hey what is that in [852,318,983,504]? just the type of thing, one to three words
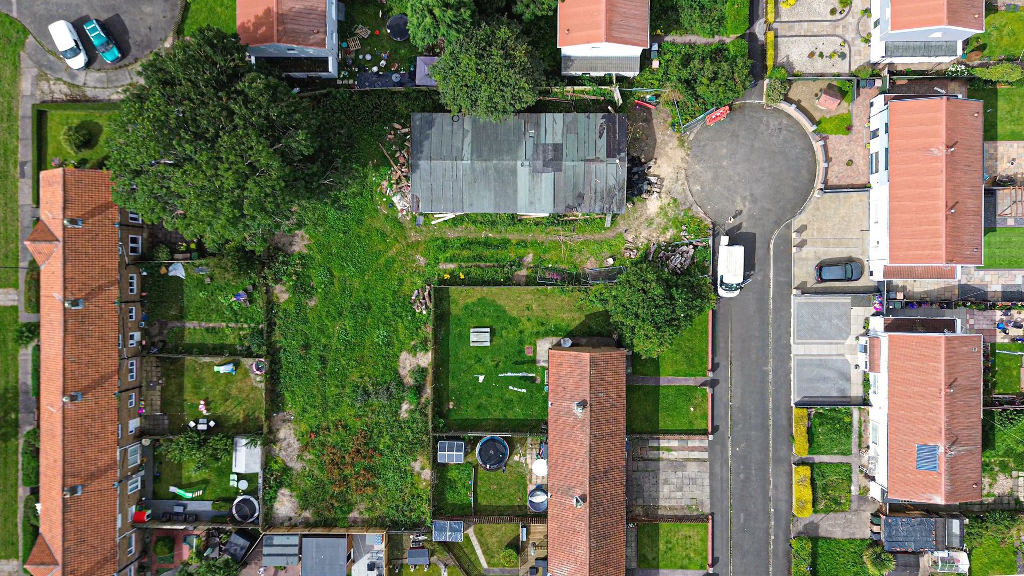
house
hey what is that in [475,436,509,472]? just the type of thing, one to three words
trampoline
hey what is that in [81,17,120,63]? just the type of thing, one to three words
car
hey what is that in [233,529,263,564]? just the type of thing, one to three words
shed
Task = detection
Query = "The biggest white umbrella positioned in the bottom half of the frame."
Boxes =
[531,459,546,477]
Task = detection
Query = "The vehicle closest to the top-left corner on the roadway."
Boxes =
[44,17,89,69]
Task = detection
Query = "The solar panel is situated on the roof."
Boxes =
[916,444,939,472]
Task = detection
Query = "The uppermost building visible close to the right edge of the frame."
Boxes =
[870,0,985,60]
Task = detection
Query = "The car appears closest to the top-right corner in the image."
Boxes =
[815,259,862,283]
